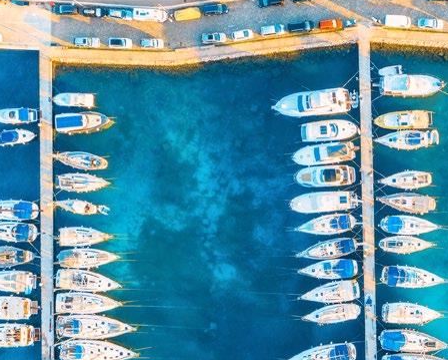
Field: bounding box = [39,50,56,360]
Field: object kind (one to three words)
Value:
pier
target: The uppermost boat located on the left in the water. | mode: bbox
[52,93,106,111]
